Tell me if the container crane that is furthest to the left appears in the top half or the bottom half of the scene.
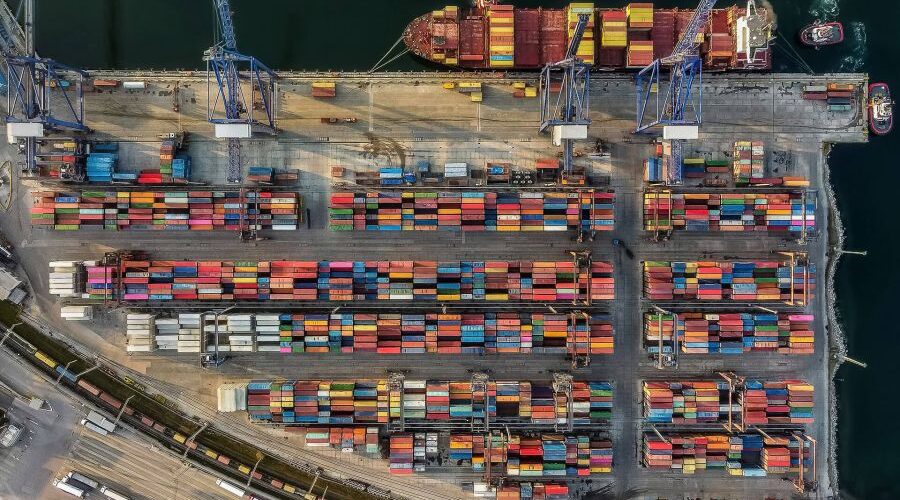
top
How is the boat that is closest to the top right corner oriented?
from left to right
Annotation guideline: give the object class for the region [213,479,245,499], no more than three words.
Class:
vehicle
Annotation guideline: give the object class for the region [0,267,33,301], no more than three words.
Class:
building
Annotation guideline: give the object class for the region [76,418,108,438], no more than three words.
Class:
vehicle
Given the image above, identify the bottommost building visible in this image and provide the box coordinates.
[0,421,31,449]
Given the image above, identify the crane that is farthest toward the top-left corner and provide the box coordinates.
[0,0,102,170]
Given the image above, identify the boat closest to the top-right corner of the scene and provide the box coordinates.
[798,24,843,47]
